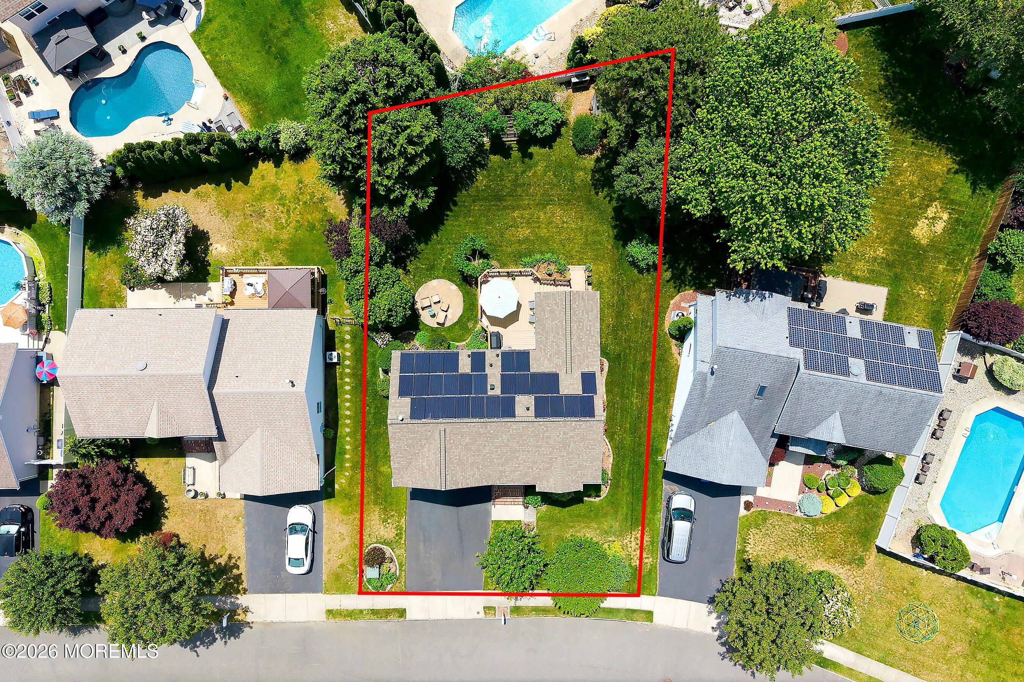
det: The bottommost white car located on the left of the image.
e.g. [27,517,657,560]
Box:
[283,503,316,574]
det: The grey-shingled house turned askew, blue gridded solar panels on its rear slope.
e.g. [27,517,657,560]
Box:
[655,287,944,486]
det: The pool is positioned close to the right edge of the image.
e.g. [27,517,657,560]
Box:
[939,405,1024,542]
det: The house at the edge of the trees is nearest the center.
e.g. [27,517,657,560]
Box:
[388,290,604,493]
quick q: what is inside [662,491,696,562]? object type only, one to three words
car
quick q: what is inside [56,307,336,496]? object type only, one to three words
house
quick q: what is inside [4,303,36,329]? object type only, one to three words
umbrella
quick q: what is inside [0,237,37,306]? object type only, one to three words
swimming pool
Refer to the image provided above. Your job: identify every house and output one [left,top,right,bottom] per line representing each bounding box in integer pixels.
[388,290,604,493]
[655,287,944,486]
[56,307,336,496]
[0,0,113,35]
[0,342,39,490]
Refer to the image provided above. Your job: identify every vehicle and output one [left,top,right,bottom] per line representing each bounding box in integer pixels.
[0,493,34,565]
[662,491,696,562]
[283,503,316,574]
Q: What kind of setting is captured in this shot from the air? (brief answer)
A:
residential area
